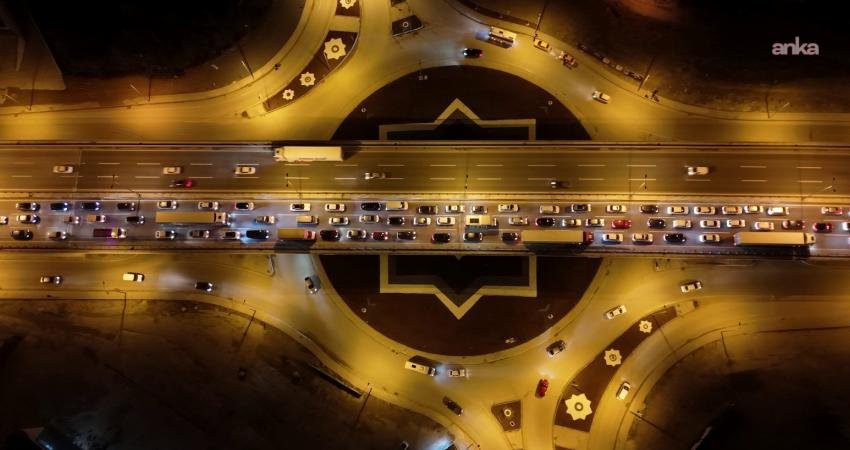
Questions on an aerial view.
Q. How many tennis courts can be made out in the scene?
zero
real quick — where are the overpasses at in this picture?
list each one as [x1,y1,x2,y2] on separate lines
[0,139,850,267]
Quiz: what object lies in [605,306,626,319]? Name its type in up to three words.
vehicle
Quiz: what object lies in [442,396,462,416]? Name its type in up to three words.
car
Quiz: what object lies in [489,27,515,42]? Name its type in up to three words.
vehicle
